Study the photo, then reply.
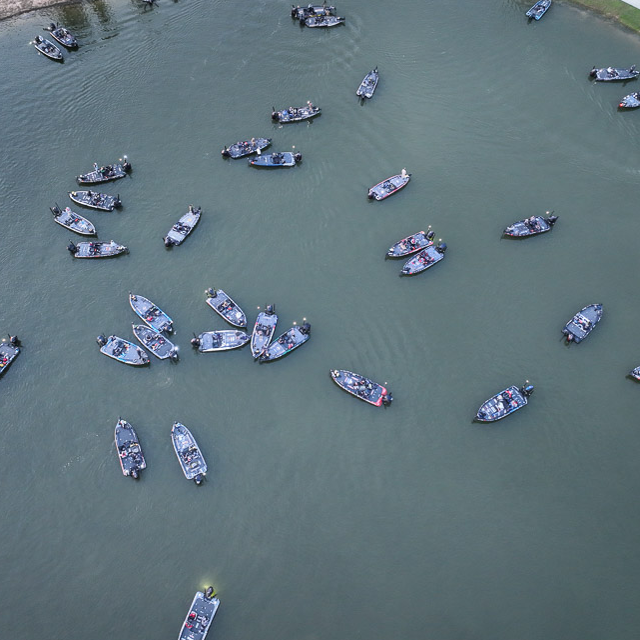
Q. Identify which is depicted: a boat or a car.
boat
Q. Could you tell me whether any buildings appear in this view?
No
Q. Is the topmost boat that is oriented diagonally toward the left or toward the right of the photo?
right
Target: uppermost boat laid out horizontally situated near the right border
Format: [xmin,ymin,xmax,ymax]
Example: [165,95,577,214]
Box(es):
[594,63,640,82]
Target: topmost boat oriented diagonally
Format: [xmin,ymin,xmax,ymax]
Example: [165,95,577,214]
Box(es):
[527,0,552,21]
